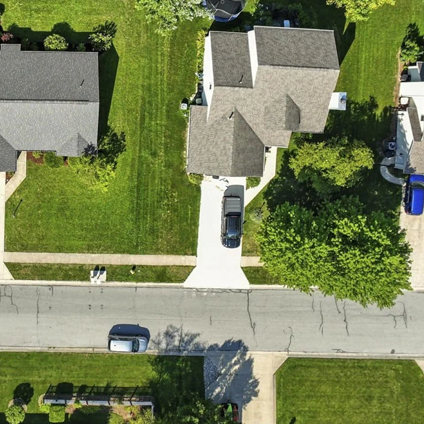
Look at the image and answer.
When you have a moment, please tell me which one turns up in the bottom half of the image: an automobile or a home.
automobile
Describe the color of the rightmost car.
blue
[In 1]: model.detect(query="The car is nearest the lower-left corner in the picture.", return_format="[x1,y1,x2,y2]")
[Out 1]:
[106,332,149,355]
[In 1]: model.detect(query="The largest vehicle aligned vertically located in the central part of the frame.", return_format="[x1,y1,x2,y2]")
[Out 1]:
[220,195,243,248]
